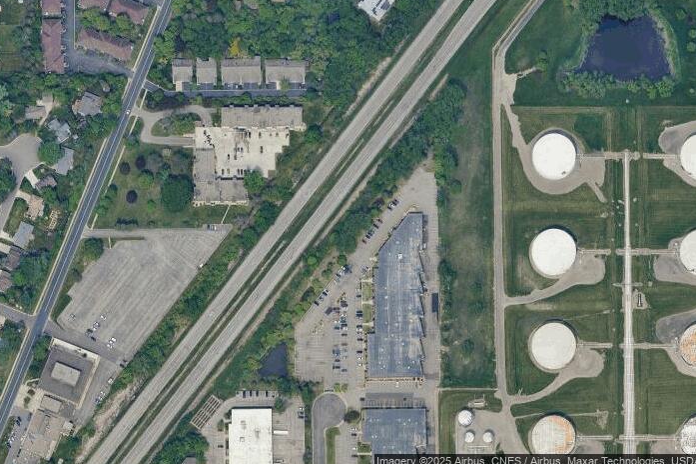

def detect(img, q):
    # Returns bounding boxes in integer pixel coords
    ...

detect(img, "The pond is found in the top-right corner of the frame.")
[582,15,672,81]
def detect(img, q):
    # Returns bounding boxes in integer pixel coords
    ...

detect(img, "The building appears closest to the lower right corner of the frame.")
[365,408,428,464]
